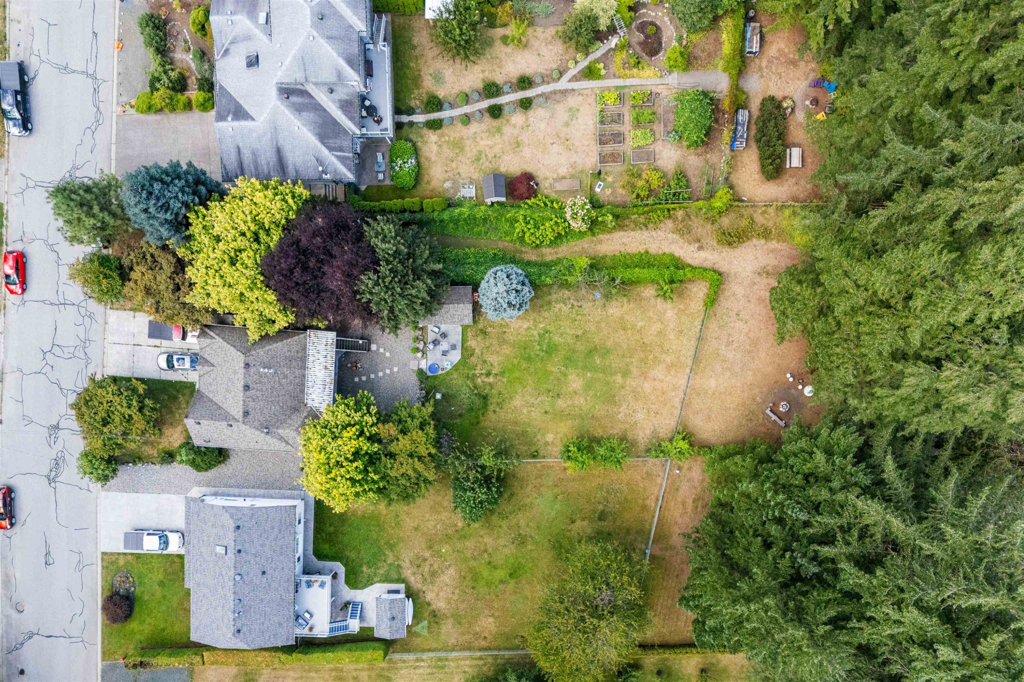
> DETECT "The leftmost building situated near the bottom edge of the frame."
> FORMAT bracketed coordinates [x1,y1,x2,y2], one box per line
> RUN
[185,495,363,650]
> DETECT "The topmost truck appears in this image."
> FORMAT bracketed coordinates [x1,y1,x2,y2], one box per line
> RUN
[0,67,31,132]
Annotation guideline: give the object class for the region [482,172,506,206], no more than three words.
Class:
shed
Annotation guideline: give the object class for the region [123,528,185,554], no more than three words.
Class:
truck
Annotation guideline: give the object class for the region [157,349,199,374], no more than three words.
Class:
car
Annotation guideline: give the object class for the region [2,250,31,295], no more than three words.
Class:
car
